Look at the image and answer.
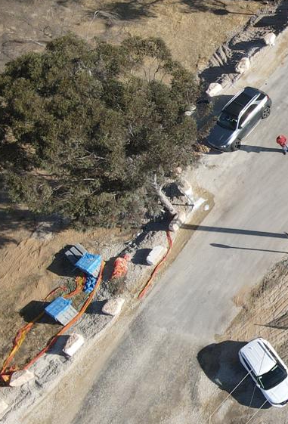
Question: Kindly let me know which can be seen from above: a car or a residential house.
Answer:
car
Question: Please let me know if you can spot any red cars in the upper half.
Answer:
No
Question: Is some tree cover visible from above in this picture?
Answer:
Yes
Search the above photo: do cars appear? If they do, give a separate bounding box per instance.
[201,85,269,154]
[236,335,288,409]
